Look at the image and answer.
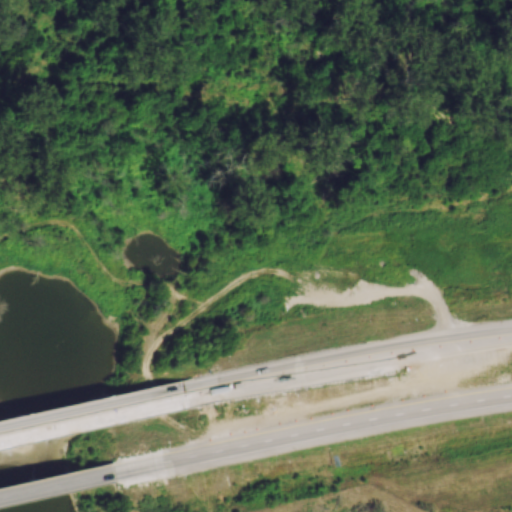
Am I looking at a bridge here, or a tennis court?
bridge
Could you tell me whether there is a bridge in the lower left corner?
Yes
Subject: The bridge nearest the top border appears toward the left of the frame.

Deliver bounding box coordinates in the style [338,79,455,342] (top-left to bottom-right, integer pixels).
[0,380,186,450]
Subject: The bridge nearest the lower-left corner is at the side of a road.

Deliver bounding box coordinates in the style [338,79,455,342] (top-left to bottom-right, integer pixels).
[0,462,120,508]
